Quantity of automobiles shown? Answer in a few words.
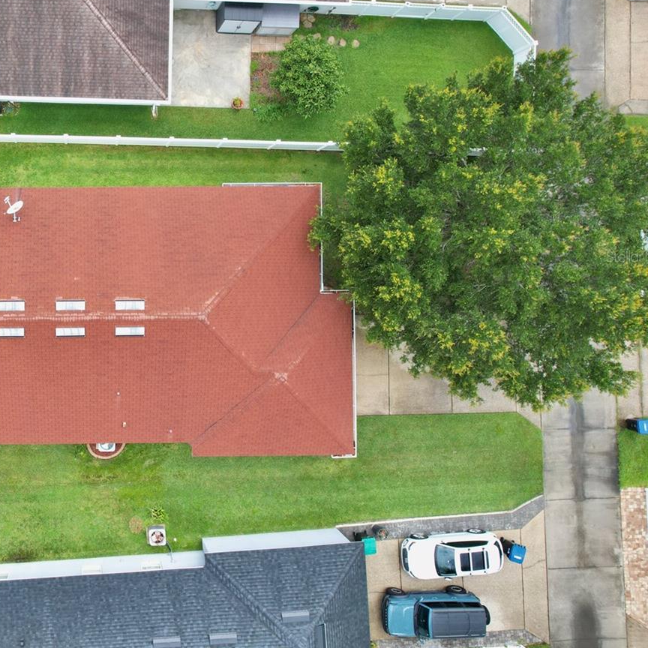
two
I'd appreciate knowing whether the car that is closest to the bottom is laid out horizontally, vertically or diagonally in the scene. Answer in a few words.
horizontally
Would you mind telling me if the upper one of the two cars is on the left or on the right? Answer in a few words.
right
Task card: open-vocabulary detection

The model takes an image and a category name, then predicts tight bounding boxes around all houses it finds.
[0,184,357,459]
[0,0,354,108]
[0,531,370,648]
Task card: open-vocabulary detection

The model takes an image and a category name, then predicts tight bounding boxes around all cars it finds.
[398,530,505,585]
[378,587,492,642]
